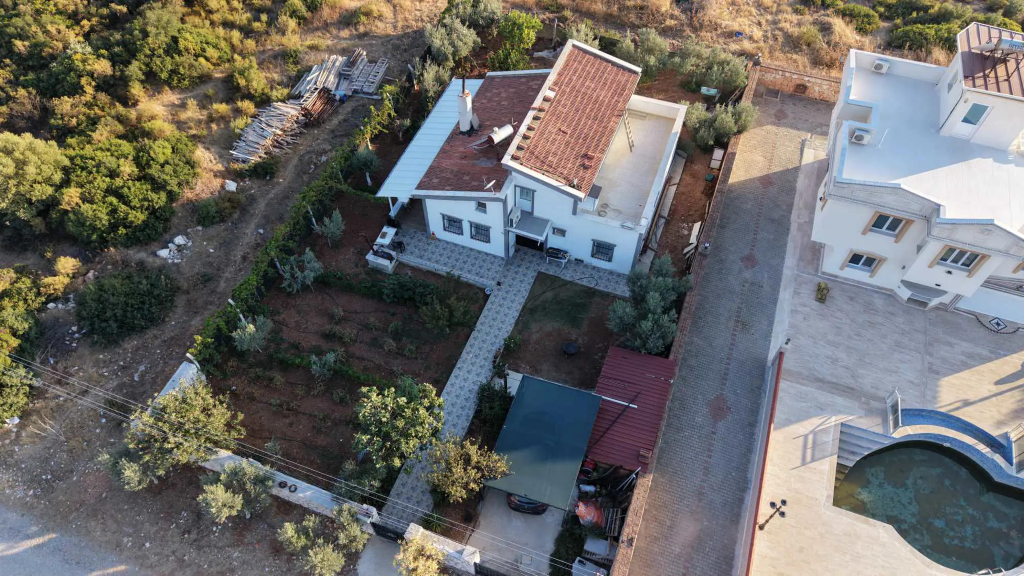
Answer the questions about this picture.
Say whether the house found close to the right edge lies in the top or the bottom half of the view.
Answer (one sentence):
The top half of the photo is where the house found close to the right edge is.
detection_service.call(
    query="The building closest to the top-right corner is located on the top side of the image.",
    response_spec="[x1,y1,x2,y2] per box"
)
[808,23,1024,322]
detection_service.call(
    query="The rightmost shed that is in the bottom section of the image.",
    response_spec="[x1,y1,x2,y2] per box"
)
[584,347,676,481]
